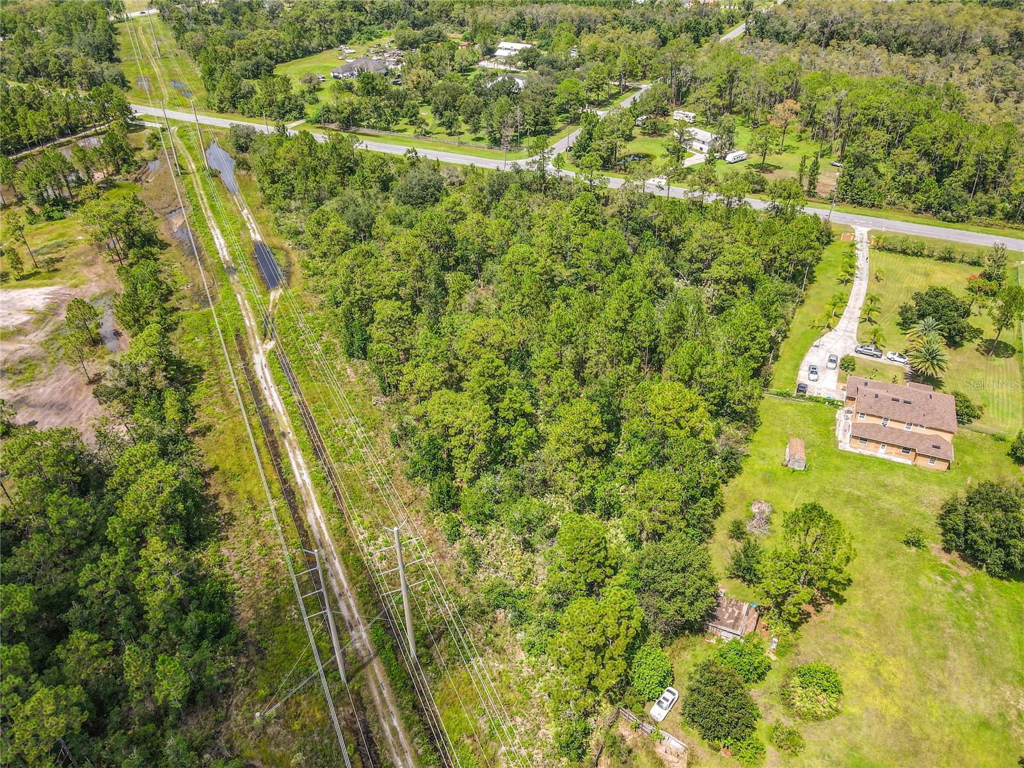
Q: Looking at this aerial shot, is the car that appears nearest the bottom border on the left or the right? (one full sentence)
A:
You can find the car that appears nearest the bottom border on the right side of the picture.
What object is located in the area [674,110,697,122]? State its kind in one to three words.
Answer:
vehicle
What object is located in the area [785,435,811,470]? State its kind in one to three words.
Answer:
shed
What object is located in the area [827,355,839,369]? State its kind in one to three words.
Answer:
vehicle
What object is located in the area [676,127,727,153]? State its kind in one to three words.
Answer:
house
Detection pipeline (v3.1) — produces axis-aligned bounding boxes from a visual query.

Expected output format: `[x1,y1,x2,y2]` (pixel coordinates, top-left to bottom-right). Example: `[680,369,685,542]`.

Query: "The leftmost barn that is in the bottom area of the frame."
[700,593,758,640]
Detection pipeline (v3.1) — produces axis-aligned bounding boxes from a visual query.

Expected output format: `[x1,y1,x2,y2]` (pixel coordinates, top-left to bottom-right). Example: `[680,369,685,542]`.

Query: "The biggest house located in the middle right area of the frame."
[843,372,960,473]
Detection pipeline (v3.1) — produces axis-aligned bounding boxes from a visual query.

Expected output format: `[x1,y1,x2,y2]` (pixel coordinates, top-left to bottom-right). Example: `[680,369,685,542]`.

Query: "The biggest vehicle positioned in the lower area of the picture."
[650,685,684,722]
